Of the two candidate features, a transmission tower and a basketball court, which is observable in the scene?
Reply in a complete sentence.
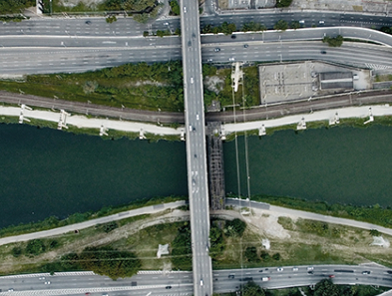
This aerial view contains a transmission tower.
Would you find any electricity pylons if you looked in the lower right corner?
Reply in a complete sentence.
Yes, looking in the lower right corner, one can make out an electricity pylon.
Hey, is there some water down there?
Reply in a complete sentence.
Yes, there is water in the image.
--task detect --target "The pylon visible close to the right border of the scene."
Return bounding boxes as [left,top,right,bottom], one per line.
[368,234,392,251]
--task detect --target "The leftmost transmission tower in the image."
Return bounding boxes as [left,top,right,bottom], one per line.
[157,243,170,262]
